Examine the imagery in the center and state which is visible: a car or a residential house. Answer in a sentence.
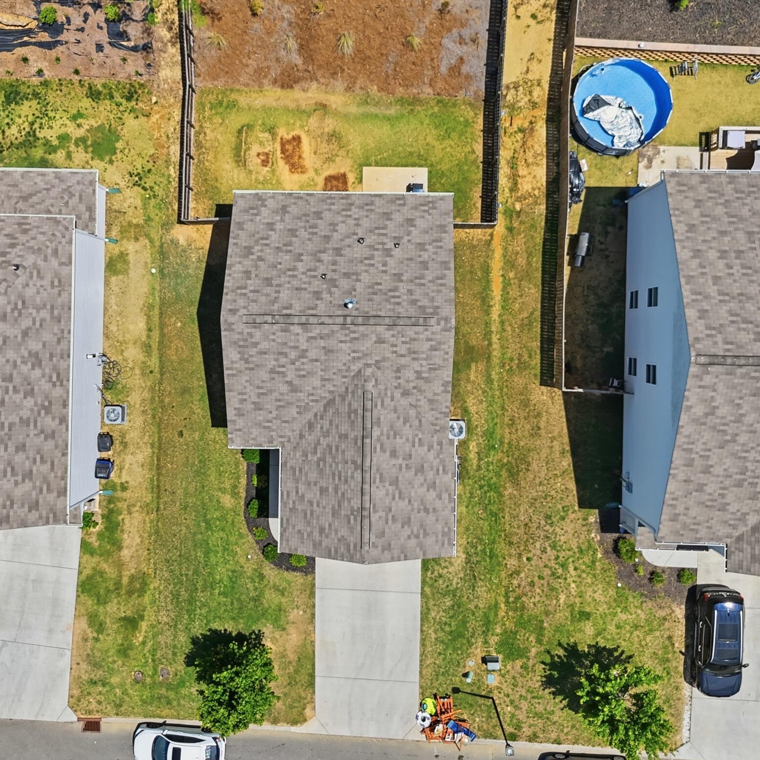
It is a residential house that can be seen in the center.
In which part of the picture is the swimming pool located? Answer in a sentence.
You can find the swimming pool in the top right area of the picture.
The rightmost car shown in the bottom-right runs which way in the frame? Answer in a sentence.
The rightmost car shown in the bottom-right is laid out from top to bottom.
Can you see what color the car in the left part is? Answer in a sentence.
From above, the car in the left part appears white.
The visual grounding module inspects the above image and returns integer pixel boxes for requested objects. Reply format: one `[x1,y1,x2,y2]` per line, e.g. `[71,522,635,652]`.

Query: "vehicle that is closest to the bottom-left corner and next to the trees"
[133,721,227,760]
